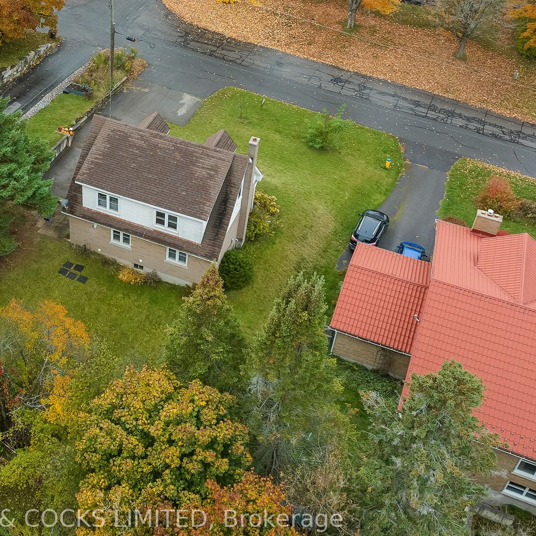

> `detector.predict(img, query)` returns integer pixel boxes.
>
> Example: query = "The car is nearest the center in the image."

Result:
[340,207,387,257]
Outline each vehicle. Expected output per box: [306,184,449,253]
[395,236,430,256]
[340,207,387,257]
